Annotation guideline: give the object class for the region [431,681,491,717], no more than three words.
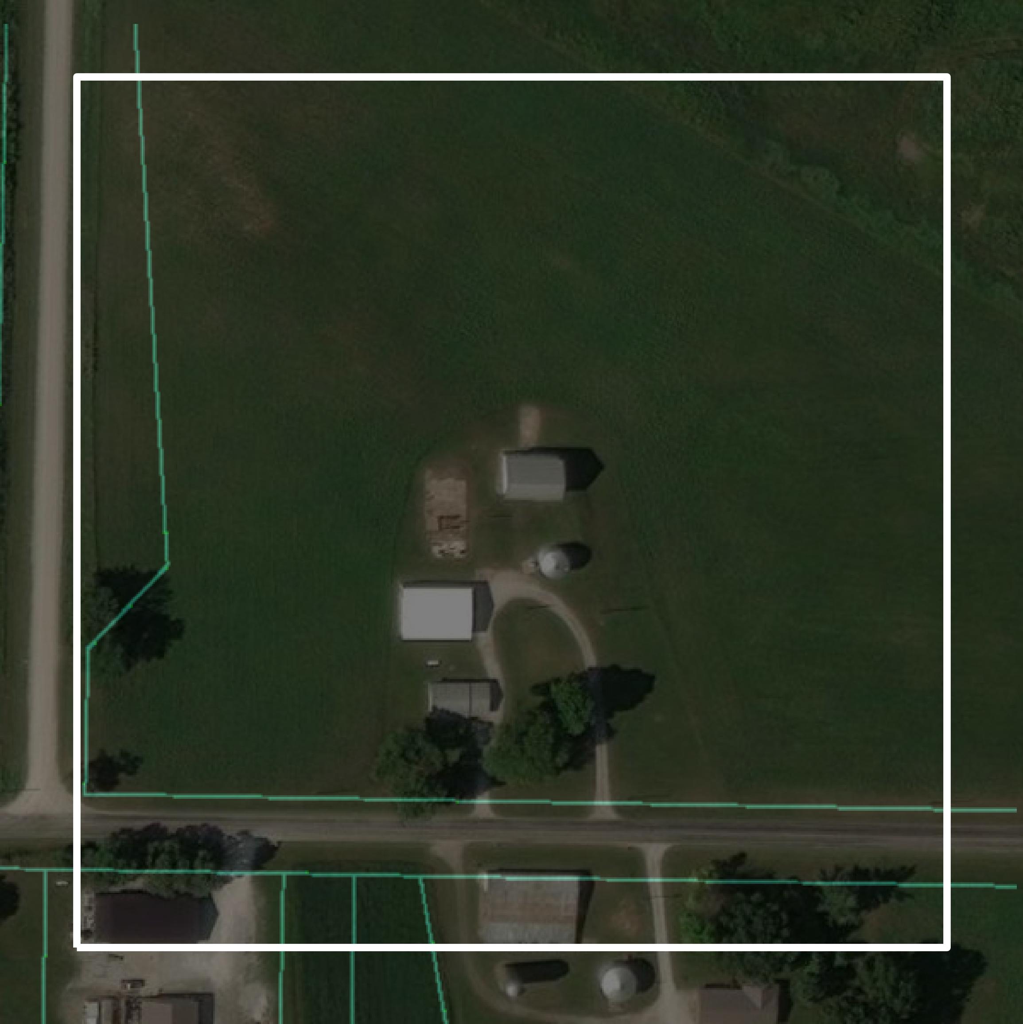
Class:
shed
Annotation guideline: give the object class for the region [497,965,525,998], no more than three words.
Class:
silo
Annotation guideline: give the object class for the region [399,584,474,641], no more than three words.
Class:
shed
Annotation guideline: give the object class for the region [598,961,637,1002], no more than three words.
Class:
silo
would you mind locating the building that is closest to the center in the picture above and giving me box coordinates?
[501,446,568,500]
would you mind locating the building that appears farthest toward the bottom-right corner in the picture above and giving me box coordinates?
[699,985,781,1024]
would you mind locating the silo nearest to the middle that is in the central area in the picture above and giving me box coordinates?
[536,544,570,579]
